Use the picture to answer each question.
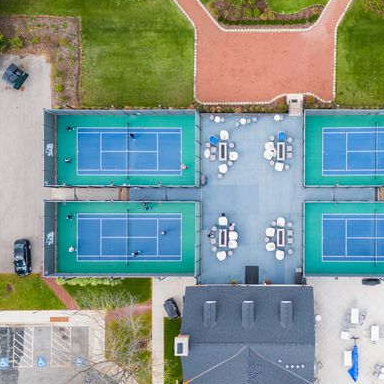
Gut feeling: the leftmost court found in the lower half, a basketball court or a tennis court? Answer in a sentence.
The leftmost court found in the lower half can be classified as a tennis court.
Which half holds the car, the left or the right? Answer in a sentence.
The car is on the left side of the image.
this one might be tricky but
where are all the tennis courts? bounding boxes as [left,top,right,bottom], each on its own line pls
[303,202,384,274]
[58,202,201,274]
[304,114,384,186]
[58,115,200,186]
